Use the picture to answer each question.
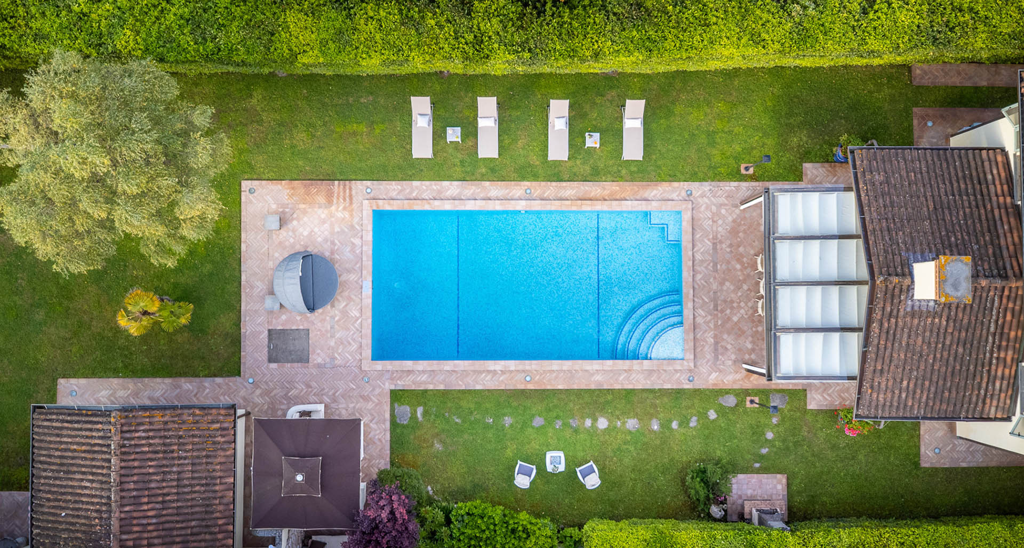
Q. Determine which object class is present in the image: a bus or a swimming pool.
swimming pool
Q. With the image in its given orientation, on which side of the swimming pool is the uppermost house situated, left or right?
to the right of it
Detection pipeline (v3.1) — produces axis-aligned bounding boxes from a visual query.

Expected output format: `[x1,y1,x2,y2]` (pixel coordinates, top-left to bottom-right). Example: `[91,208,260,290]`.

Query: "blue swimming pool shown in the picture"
[362,200,694,370]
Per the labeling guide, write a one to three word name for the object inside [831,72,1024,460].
house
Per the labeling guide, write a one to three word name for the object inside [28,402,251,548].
shed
